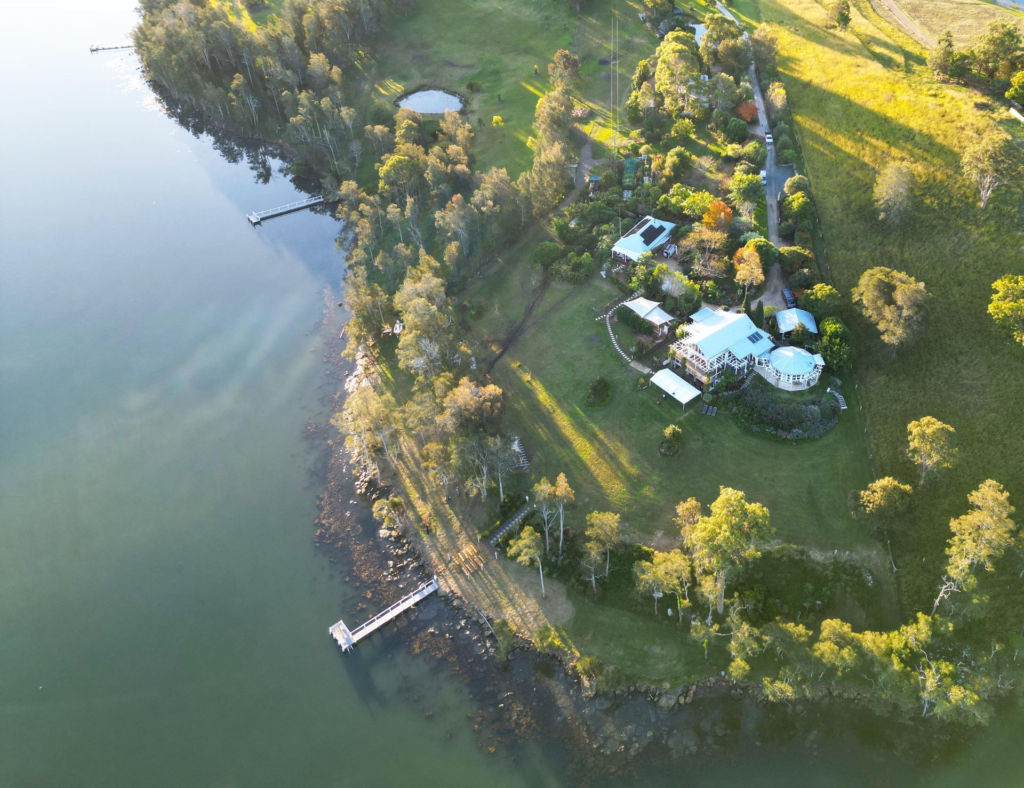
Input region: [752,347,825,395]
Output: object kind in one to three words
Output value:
building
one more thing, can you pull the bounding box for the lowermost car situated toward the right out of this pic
[779,286,801,308]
